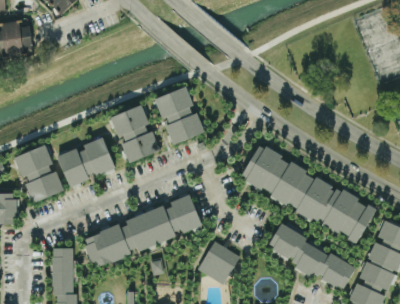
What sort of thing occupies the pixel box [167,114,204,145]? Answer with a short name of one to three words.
house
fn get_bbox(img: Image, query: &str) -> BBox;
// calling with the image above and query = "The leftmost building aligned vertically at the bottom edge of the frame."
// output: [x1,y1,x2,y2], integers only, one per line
[54,248,74,294]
